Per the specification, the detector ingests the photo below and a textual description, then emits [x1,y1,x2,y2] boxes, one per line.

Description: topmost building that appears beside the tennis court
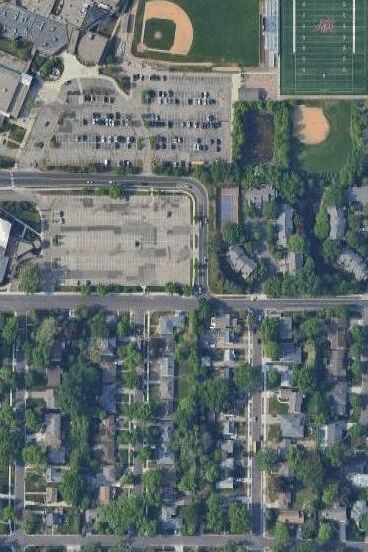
[245,184,275,201]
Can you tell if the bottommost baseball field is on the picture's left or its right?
right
